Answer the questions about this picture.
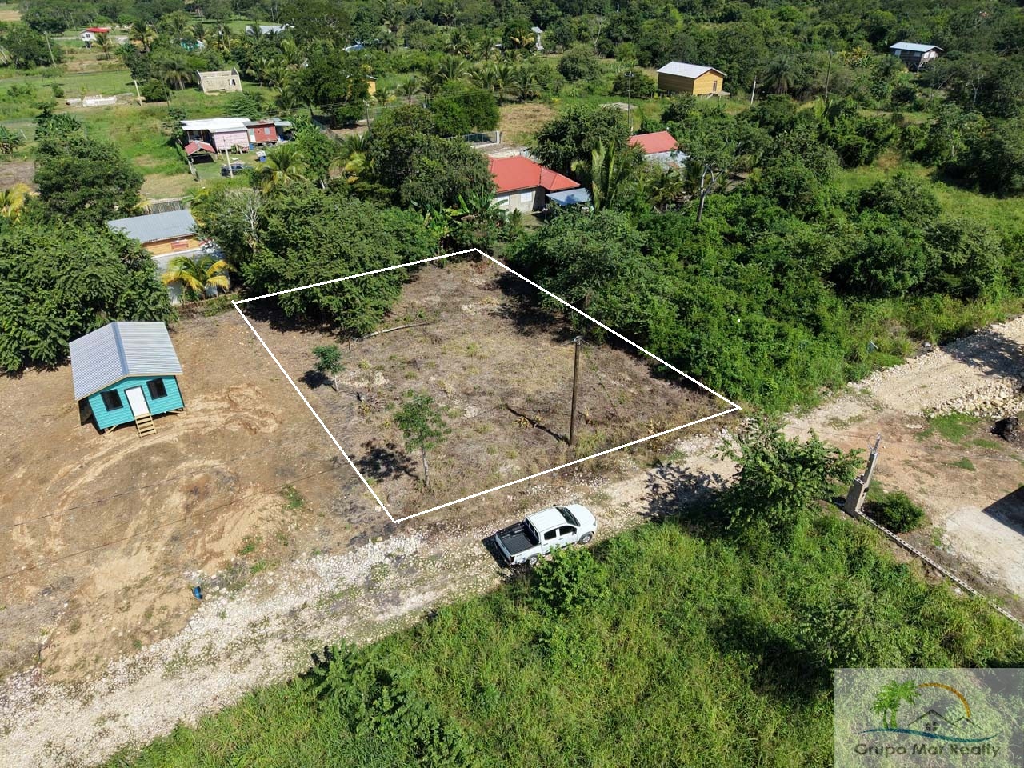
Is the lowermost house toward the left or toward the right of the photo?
left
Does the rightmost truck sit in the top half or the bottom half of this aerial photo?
bottom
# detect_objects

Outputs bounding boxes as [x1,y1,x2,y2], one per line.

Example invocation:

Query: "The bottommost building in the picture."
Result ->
[70,325,188,440]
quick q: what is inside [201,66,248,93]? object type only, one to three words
house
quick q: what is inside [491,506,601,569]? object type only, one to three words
truck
